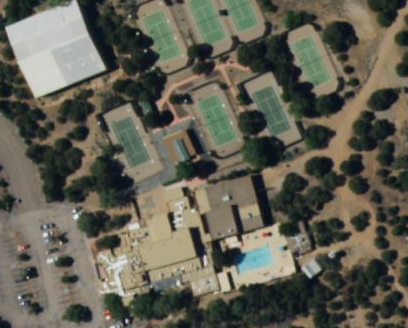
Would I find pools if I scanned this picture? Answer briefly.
Yes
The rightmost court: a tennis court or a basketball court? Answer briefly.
tennis court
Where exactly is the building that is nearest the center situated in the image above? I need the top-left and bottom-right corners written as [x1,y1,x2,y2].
[162,130,198,163]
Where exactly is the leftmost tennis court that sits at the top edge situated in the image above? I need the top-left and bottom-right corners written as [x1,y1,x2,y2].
[136,0,188,72]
